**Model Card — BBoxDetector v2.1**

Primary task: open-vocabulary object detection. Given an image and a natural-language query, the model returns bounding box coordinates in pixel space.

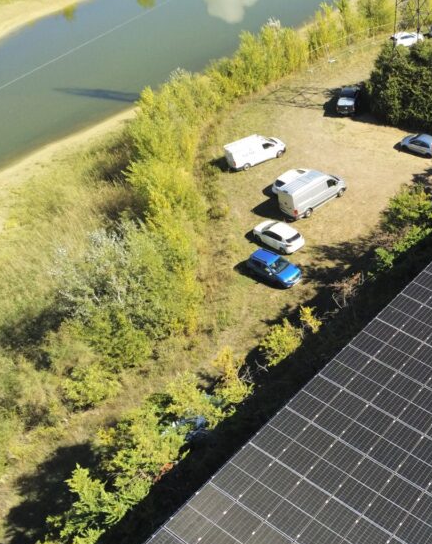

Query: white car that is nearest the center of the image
[249,222,310,257]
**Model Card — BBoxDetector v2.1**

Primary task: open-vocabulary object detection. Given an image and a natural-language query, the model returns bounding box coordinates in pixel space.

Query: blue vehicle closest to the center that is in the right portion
[244,246,305,290]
